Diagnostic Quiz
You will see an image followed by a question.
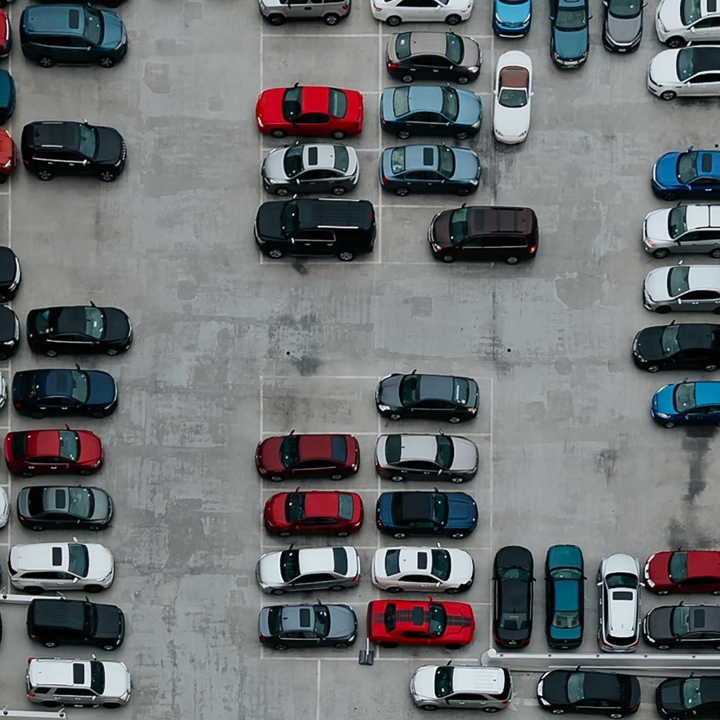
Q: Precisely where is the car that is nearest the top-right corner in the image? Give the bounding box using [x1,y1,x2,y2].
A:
[655,0,720,47]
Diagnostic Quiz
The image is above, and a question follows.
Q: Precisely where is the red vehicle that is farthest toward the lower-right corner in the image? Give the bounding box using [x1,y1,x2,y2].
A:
[642,543,720,595]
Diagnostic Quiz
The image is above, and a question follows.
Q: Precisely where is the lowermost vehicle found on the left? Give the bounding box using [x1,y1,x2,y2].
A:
[24,651,132,707]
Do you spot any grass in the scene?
No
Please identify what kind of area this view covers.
parking lot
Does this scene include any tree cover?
No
